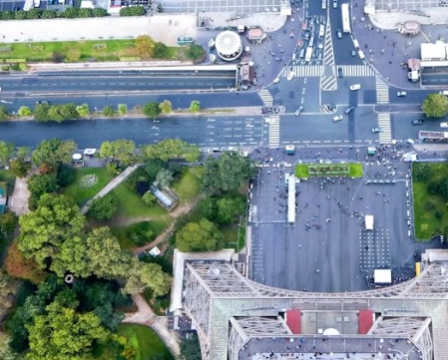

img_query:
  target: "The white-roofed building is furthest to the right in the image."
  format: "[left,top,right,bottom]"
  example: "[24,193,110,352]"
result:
[421,40,448,60]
